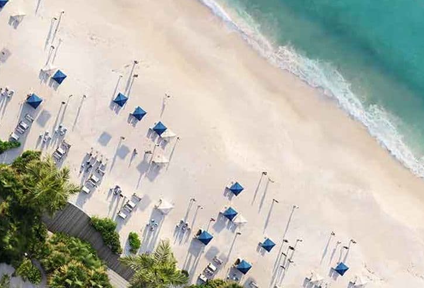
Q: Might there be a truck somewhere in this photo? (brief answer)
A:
No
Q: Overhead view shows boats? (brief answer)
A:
No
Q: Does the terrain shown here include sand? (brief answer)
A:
Yes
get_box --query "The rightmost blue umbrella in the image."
[333,261,349,277]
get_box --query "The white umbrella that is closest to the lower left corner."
[155,197,172,215]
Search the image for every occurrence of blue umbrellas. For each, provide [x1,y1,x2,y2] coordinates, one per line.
[52,68,67,85]
[333,261,349,277]
[196,229,213,245]
[152,121,167,137]
[259,236,275,253]
[131,105,146,121]
[26,93,42,108]
[111,93,128,108]
[235,258,251,275]
[221,204,237,221]
[228,181,243,196]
